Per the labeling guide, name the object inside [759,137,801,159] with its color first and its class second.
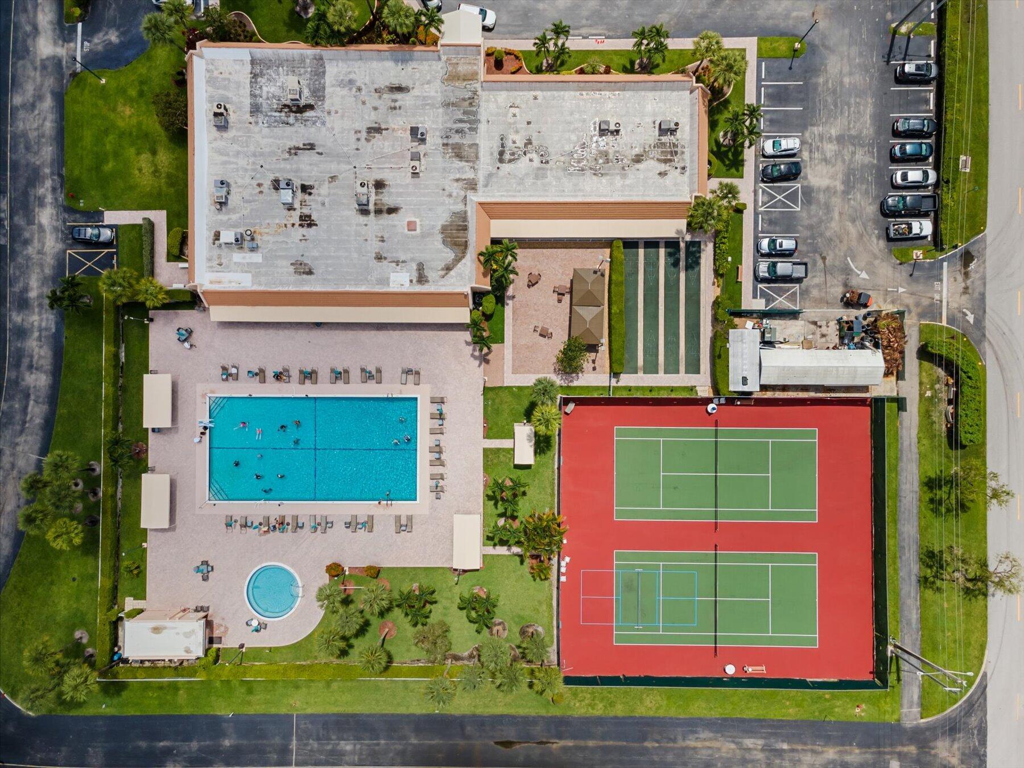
white car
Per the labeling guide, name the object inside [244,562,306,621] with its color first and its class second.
blue swimming pool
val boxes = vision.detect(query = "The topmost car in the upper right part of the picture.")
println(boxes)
[894,61,937,84]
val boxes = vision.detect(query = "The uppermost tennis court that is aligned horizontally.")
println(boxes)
[561,398,874,537]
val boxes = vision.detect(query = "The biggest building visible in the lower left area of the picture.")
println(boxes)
[124,604,214,657]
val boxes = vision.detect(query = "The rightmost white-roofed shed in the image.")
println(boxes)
[760,350,885,385]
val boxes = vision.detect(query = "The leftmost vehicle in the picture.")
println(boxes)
[72,224,116,245]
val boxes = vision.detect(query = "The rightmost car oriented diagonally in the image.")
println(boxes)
[457,5,498,32]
